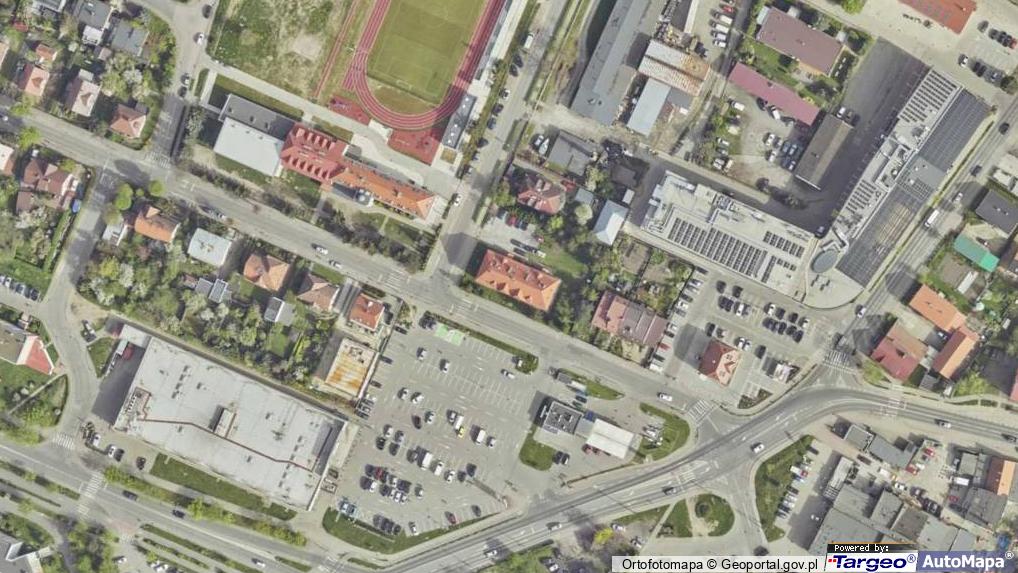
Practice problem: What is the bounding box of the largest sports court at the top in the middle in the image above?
[390,113,450,165]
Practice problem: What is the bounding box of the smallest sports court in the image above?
[327,95,371,124]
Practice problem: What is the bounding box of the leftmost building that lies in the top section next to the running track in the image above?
[214,97,439,220]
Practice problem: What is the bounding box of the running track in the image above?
[338,0,503,130]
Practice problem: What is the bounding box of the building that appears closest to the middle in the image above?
[475,250,562,311]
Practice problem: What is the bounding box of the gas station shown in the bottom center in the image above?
[541,402,635,459]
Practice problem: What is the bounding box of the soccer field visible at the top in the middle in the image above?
[363,0,484,101]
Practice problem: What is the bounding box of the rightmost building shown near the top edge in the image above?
[901,0,976,34]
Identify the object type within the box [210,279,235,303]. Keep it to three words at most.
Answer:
shed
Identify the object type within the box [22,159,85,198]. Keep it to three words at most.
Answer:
house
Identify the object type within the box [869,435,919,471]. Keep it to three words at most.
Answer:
building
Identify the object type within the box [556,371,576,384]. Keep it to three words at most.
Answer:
vehicle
